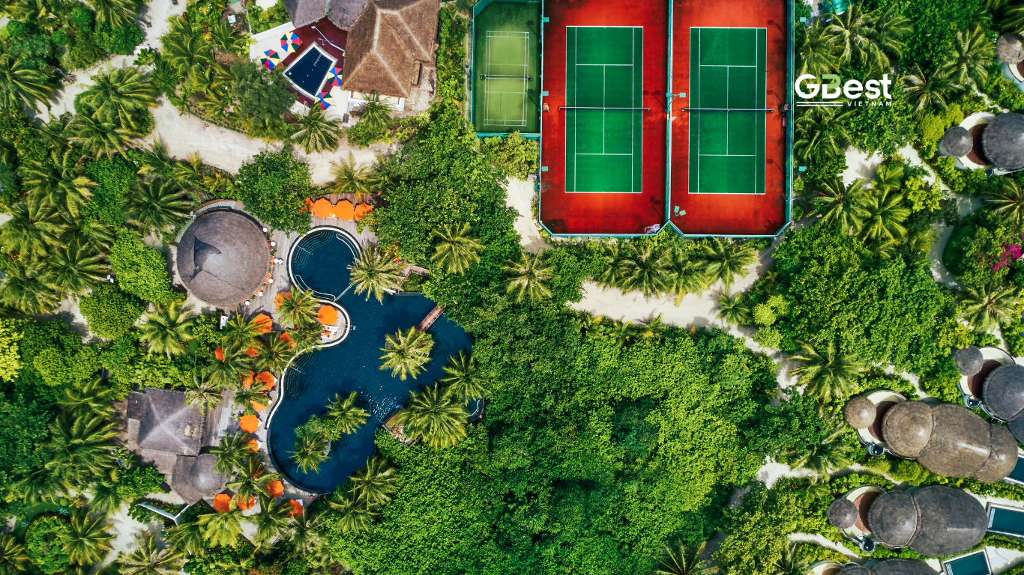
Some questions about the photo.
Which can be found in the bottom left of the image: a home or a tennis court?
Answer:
home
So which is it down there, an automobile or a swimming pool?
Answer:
swimming pool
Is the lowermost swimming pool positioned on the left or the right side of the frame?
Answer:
right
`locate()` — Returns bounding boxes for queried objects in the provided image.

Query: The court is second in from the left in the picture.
[540,0,667,233]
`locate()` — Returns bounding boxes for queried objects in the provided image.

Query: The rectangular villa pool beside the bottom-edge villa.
[939,548,992,575]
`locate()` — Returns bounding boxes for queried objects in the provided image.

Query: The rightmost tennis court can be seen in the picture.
[667,0,787,235]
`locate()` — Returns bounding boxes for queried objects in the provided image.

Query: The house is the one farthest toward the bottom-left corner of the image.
[127,388,232,505]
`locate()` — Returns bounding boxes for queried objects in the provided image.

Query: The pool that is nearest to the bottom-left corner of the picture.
[264,225,485,496]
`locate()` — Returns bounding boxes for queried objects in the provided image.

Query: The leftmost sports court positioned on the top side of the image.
[475,6,541,133]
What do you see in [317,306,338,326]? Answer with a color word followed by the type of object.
orange umbrella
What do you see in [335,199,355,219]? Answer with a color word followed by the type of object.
orange umbrella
